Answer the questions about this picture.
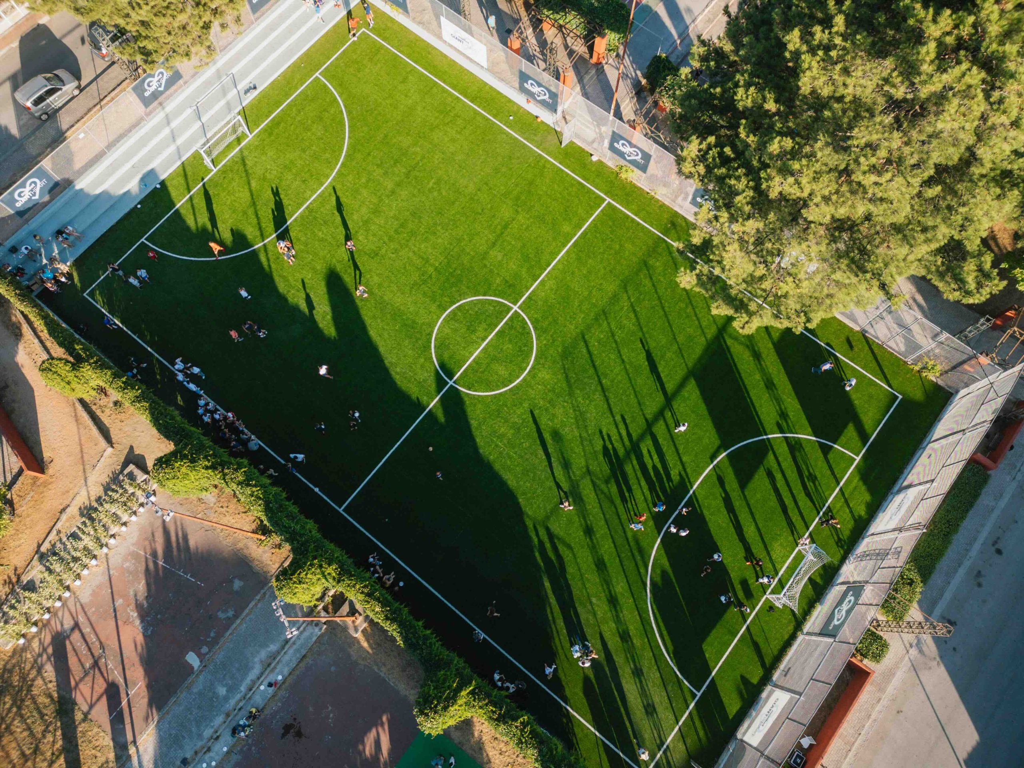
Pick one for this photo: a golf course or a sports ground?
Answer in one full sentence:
The area seen from above is a sports ground.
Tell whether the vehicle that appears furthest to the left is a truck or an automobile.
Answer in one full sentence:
Specifically, the vehicle that appears furthest to the left is an automobile.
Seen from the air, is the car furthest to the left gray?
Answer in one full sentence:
Yes, the car furthest to the left is indeed gray.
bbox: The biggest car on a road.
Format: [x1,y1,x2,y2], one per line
[13,70,78,123]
